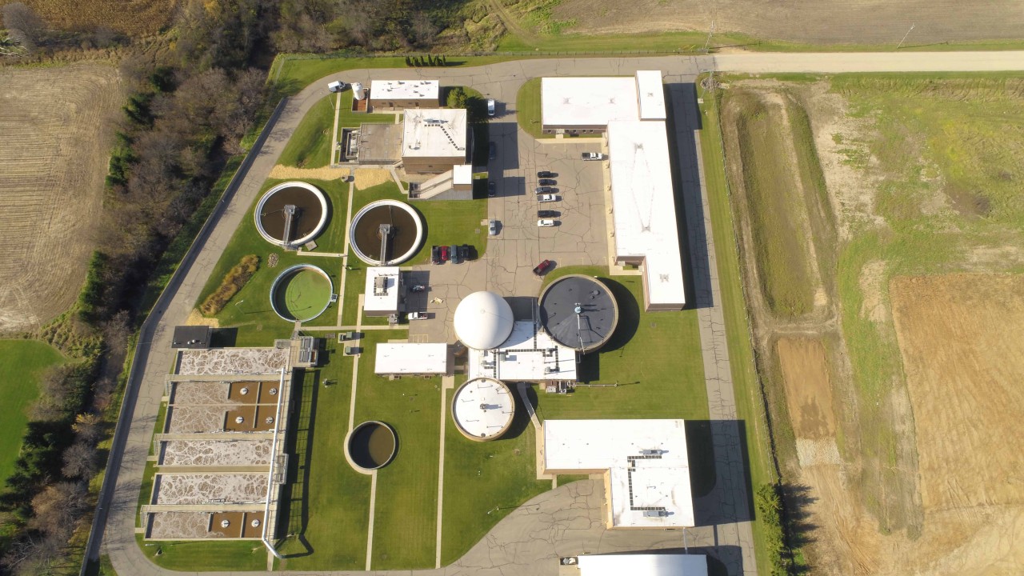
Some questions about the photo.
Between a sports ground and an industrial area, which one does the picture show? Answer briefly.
industrial area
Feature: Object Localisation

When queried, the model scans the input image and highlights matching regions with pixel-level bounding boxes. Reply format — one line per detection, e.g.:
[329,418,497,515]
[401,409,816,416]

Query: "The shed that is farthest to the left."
[172,325,213,351]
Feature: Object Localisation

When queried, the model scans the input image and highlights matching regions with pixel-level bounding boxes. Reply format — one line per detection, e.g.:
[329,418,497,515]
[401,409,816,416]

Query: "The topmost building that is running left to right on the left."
[370,80,440,108]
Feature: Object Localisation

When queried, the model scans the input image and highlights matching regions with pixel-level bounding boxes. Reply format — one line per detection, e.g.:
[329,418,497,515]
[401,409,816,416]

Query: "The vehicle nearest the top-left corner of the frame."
[324,79,347,92]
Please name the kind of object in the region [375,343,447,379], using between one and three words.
shed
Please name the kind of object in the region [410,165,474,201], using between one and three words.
building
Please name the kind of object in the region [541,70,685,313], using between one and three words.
building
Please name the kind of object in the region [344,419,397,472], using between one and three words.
storage tank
